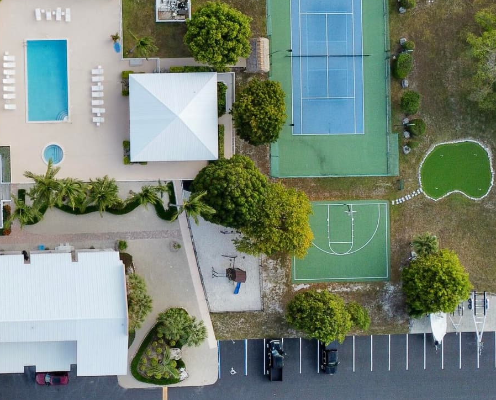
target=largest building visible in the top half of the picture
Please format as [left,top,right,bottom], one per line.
[128,72,218,161]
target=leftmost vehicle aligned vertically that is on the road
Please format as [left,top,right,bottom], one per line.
[267,339,285,380]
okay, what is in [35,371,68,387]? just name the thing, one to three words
car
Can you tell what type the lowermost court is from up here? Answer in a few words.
basketball court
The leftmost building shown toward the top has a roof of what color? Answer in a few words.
white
